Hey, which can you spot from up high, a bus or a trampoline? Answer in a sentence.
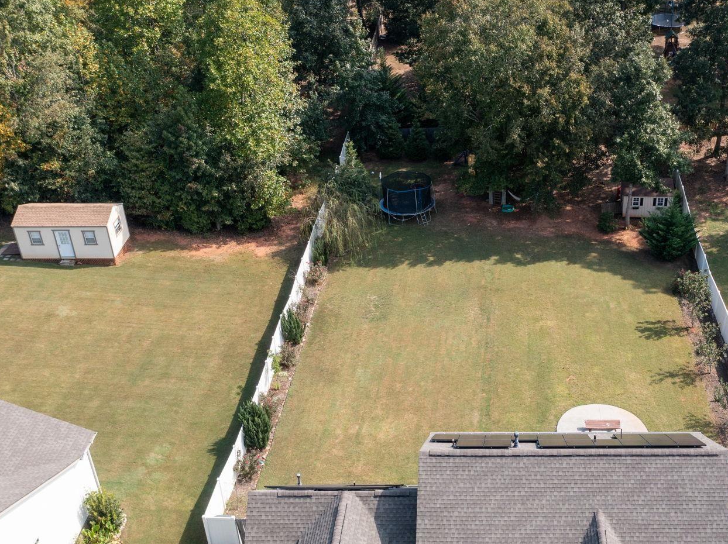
The one in the frame is a trampoline.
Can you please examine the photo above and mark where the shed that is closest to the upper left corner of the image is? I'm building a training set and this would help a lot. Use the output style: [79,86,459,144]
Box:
[9,202,131,263]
